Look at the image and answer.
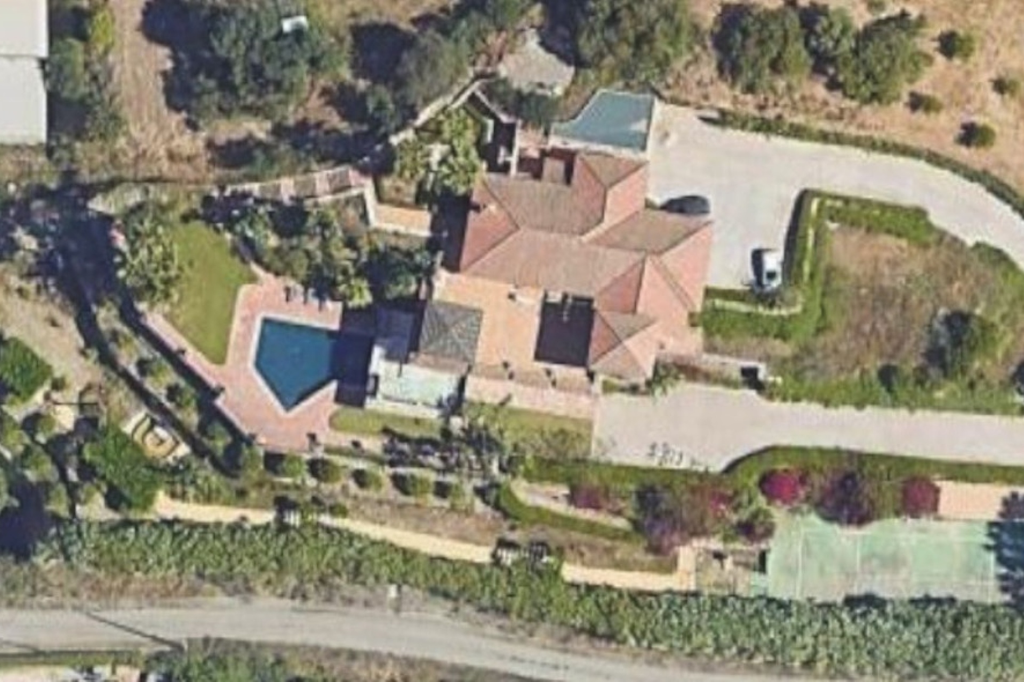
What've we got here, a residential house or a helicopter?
residential house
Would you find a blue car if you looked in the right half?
No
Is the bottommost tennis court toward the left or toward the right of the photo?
right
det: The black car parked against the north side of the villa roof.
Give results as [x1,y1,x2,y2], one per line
[665,195,712,216]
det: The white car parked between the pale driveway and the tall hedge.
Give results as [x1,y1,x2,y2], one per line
[763,248,782,292]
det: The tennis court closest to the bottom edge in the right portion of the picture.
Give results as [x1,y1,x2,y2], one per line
[765,514,1024,603]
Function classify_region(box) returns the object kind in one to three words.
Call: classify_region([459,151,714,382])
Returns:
house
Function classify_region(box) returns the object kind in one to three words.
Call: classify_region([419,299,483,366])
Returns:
building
